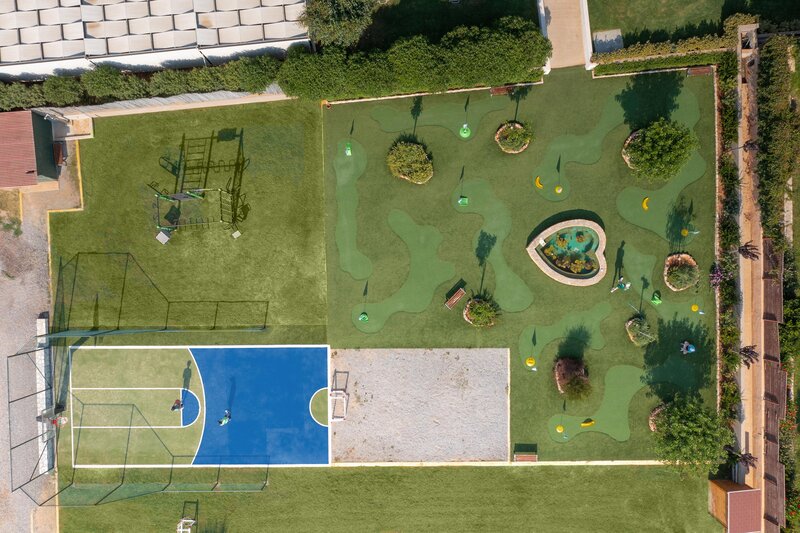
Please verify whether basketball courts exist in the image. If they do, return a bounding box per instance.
[71,346,330,467]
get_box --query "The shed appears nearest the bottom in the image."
[709,480,762,532]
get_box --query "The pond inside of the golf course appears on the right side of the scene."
[526,218,608,286]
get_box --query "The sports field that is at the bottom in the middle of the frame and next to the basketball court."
[331,349,509,462]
